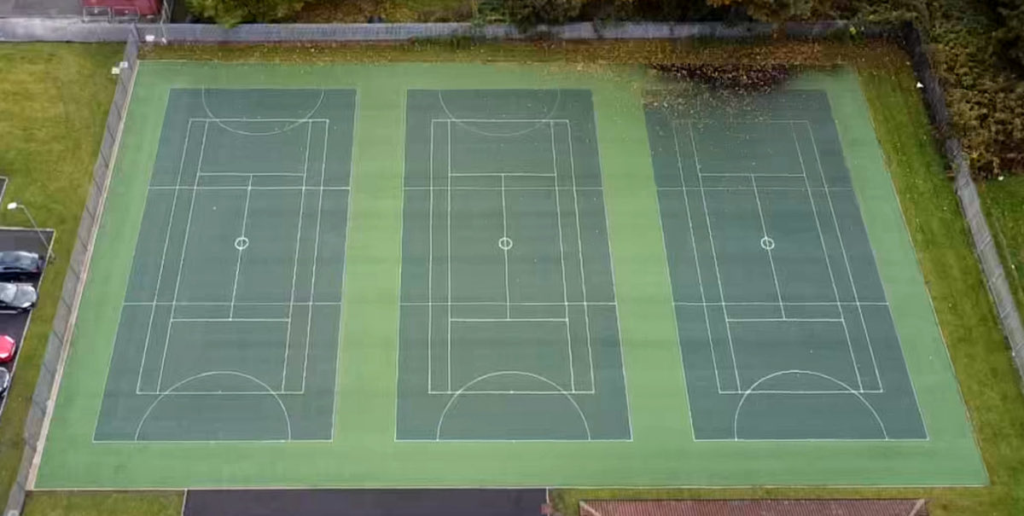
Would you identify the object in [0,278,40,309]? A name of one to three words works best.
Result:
car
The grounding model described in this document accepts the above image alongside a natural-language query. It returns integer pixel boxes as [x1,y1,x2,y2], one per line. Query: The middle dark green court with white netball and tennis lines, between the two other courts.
[396,88,631,440]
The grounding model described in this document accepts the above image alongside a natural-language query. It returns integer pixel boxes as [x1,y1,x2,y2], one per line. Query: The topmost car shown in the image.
[0,250,49,282]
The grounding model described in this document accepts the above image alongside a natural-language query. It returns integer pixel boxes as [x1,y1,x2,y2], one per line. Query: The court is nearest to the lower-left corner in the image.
[95,88,357,441]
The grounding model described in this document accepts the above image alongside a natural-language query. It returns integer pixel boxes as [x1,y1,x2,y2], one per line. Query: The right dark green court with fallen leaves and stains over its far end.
[642,89,927,439]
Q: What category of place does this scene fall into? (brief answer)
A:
sports ground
